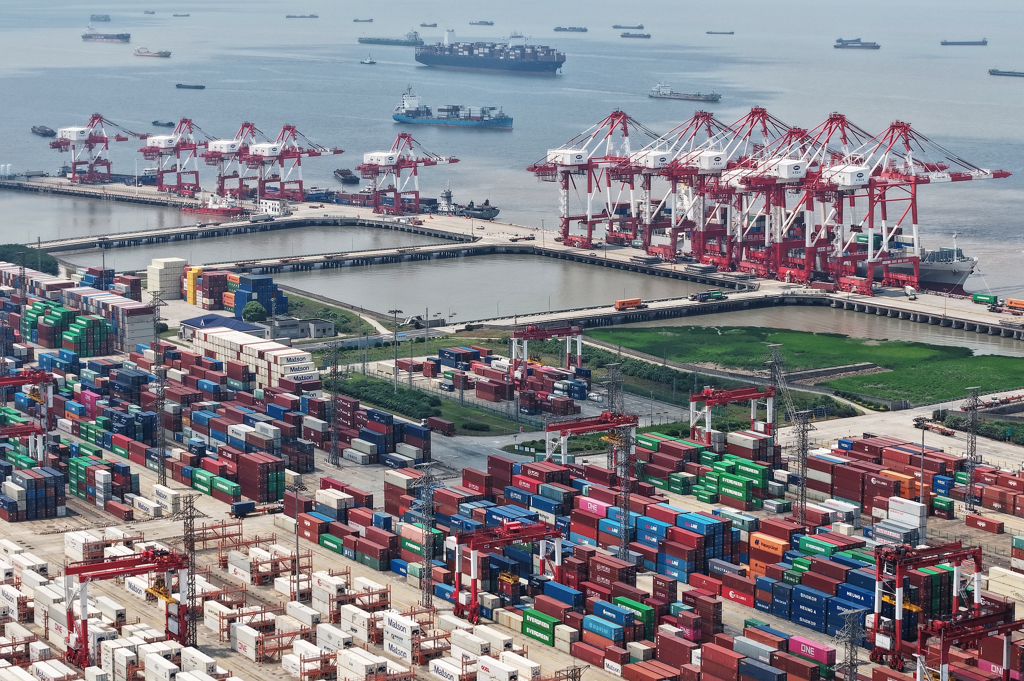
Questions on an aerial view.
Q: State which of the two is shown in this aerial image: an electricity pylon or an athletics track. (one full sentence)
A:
There is an electricity pylon in the scene.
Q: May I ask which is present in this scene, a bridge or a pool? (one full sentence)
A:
This aerial view contains a bridge.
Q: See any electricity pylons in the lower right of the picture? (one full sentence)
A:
Yes, I can see an electricity pylon in the lower right of the picture.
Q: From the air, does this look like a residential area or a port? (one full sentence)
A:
It's a port.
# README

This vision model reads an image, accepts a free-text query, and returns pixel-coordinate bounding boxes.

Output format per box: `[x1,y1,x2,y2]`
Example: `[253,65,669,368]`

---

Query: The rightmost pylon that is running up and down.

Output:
[957,380,990,514]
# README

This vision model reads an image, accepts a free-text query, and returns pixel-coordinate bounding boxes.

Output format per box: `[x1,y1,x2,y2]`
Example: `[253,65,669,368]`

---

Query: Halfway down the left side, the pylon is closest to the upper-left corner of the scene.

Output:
[8,253,38,347]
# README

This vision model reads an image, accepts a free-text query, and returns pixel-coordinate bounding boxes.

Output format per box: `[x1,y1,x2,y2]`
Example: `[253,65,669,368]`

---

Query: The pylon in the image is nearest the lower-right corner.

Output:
[823,609,875,681]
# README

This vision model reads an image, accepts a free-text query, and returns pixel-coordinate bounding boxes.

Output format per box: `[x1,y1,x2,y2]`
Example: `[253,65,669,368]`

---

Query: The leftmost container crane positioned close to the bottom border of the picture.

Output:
[57,546,192,668]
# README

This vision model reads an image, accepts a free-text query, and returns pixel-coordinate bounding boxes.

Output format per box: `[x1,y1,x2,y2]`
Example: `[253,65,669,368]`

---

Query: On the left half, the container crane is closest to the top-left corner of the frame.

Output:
[53,111,143,184]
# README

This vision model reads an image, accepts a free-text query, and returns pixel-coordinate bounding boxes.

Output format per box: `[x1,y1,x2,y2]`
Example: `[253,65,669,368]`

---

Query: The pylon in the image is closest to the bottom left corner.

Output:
[161,484,211,647]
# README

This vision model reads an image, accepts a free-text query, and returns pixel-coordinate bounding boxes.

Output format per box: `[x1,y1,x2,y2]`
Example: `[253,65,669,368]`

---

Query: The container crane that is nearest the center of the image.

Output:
[509,322,589,391]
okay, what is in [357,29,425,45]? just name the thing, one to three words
ship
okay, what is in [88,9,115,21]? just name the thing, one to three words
ship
